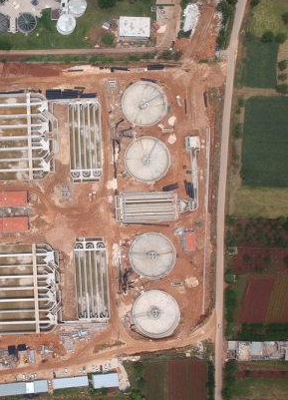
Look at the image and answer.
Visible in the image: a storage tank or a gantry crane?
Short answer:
storage tank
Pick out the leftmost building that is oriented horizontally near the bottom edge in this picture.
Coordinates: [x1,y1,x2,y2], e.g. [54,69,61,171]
[0,379,48,396]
